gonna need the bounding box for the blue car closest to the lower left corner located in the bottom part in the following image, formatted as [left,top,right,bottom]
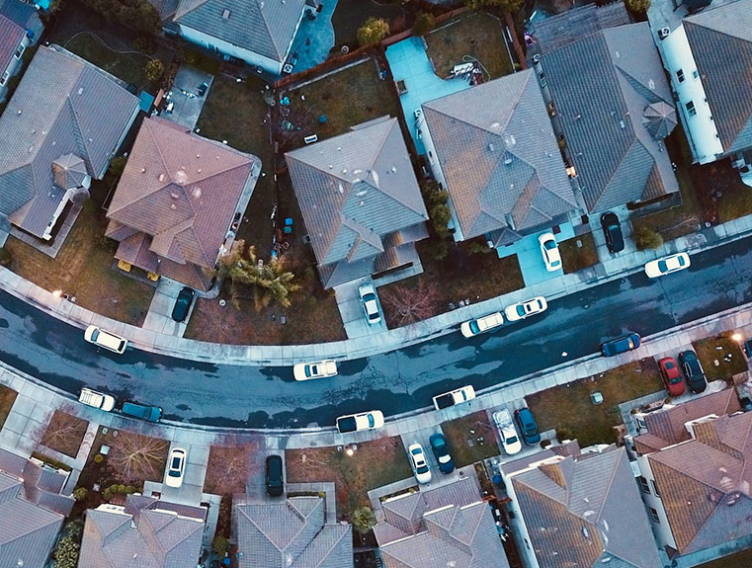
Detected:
[119,399,165,421]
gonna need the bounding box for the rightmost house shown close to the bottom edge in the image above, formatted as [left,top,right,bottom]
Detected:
[628,386,752,555]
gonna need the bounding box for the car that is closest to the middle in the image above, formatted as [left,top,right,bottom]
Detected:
[359,282,382,326]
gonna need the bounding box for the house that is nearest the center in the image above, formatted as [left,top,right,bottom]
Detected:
[284,117,431,290]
